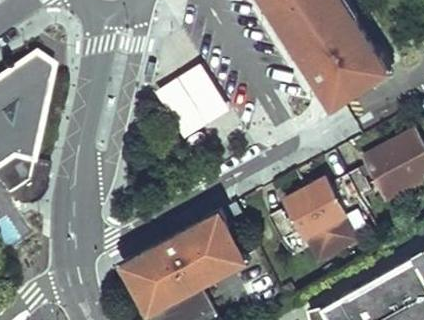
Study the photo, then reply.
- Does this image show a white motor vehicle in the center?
Yes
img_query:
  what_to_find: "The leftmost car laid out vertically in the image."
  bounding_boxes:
[144,56,156,82]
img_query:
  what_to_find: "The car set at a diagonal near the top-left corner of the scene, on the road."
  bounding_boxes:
[0,28,19,45]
